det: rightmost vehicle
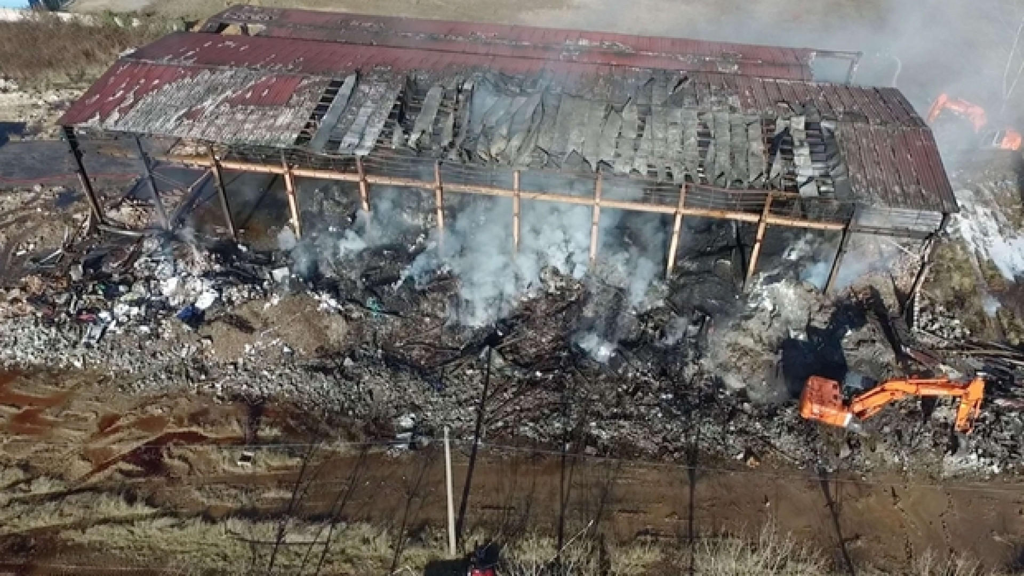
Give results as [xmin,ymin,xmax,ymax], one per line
[926,89,1024,168]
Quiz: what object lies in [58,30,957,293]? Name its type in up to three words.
shed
